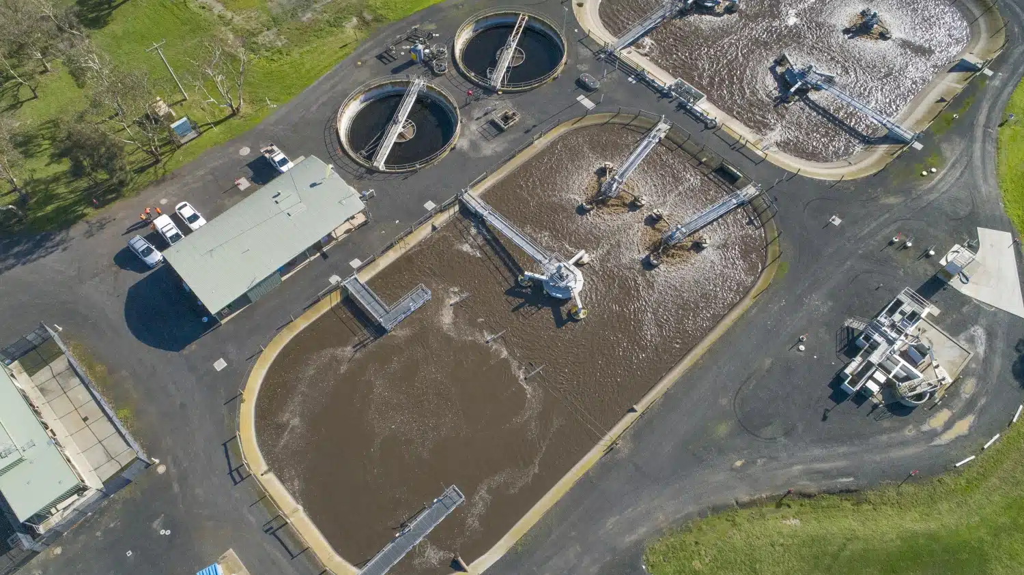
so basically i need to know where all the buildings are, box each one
[835,284,942,399]
[169,115,197,145]
[0,360,92,524]
[162,157,368,332]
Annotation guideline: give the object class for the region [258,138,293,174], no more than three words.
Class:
truck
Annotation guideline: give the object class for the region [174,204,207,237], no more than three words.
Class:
car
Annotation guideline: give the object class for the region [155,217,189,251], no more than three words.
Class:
truck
